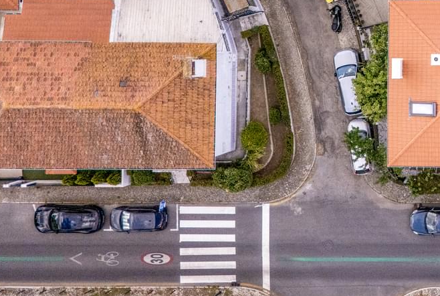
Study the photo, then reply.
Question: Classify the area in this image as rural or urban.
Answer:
urban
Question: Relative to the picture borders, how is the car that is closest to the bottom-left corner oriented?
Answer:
horizontally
